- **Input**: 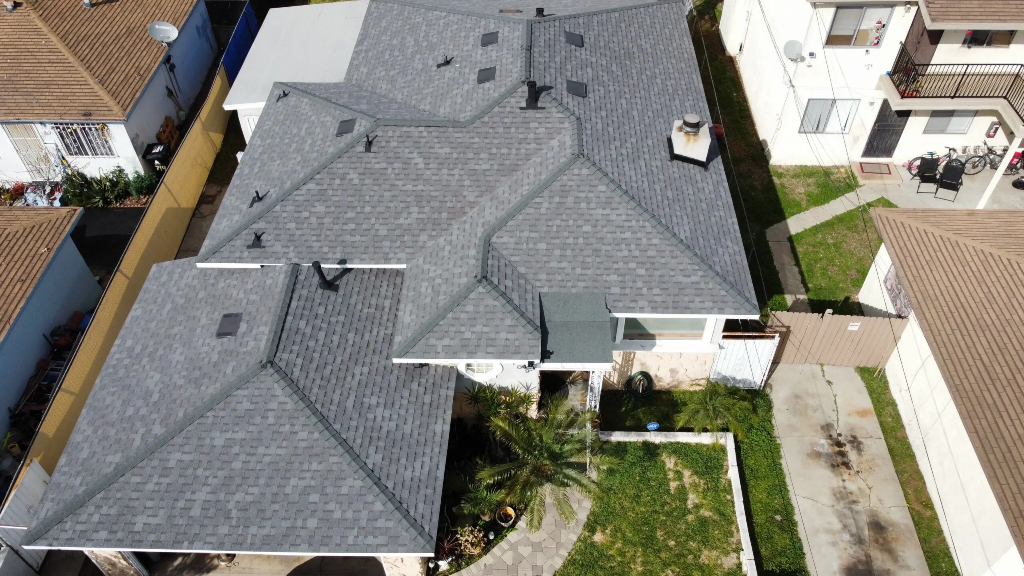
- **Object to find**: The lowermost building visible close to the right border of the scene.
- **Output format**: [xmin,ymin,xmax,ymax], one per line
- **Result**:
[859,205,1024,576]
